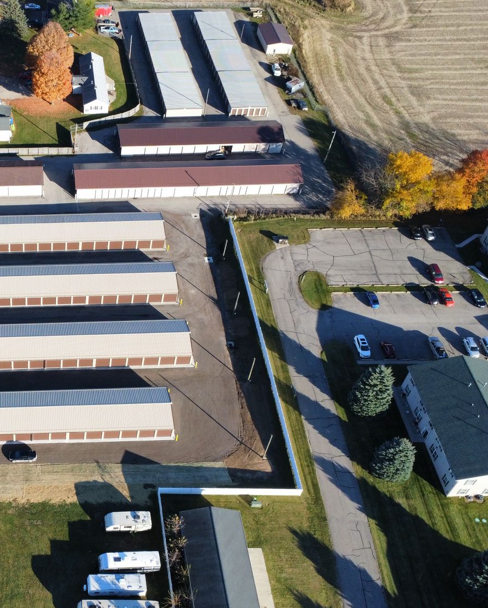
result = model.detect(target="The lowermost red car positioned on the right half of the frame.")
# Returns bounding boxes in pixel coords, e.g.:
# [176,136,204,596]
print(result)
[437,289,455,306]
